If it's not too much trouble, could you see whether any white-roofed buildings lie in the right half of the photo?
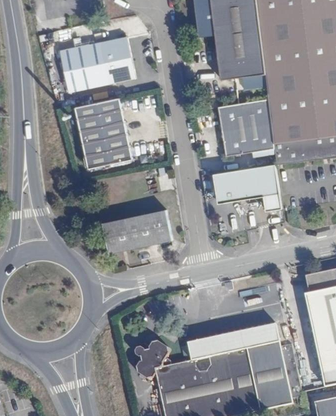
Yes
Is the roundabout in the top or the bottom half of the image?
bottom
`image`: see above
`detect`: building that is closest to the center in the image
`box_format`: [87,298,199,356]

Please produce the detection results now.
[102,209,174,252]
